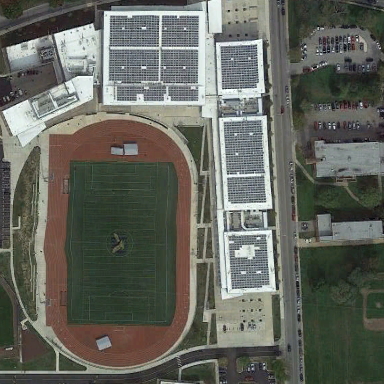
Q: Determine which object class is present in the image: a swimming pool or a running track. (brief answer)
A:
running track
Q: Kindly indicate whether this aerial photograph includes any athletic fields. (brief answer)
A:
Yes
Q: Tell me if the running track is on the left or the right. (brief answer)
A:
left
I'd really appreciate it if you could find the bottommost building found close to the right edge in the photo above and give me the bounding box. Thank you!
[313,214,384,241]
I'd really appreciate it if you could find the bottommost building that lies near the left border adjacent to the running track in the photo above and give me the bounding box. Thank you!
[0,76,93,137]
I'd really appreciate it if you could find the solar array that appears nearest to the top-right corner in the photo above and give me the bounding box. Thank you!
[221,45,258,89]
